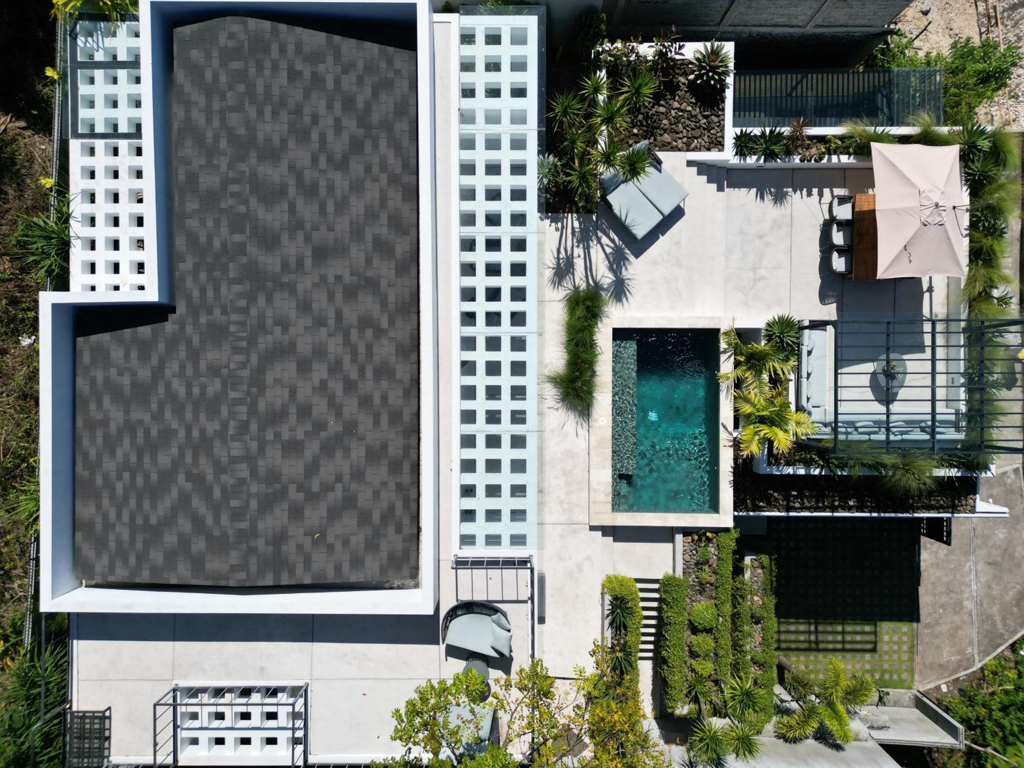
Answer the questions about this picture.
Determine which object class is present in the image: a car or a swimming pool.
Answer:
swimming pool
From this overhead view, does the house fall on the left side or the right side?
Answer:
left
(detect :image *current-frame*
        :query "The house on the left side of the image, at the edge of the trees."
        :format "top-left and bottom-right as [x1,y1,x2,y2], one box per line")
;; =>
[40,0,538,761]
